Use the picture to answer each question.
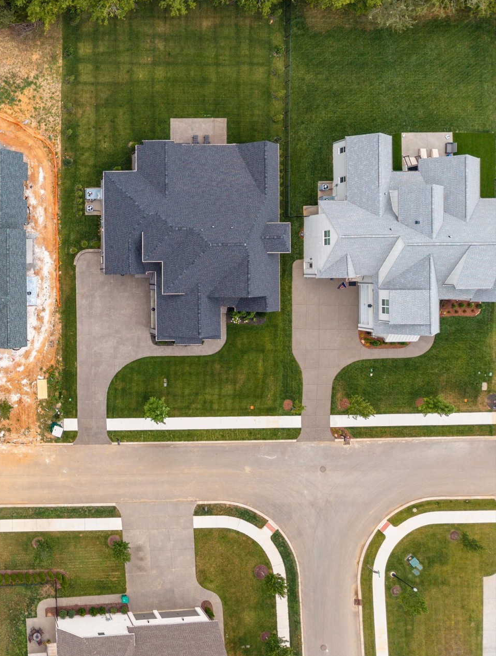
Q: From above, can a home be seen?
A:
Yes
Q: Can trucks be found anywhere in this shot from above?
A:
No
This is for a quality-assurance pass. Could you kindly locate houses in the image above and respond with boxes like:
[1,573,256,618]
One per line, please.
[56,608,229,656]
[0,149,27,349]
[101,139,291,346]
[304,133,496,341]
